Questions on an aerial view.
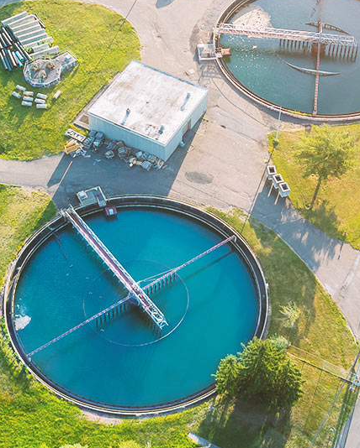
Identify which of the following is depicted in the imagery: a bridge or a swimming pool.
bridge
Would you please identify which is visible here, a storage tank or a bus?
storage tank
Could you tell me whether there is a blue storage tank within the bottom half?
Yes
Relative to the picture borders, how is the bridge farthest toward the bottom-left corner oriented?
on a diagonal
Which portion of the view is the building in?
top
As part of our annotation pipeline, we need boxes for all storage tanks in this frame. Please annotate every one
[5,181,266,416]
[197,0,360,122]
